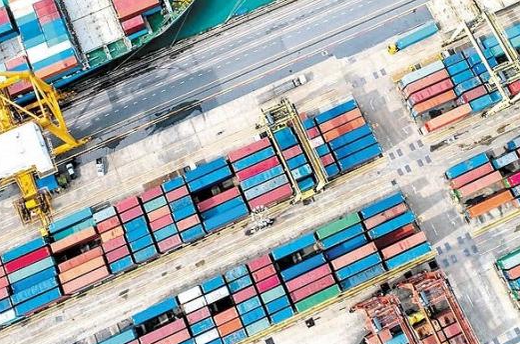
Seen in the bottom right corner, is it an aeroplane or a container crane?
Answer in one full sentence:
The one visible in the bottom right corner is a container crane.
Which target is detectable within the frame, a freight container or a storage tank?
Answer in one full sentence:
The one in the frame is a freight container.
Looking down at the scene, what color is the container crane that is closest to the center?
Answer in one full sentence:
The color of the container crane that is closest to the center is white.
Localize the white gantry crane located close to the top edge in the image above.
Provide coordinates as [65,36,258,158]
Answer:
[440,7,520,117]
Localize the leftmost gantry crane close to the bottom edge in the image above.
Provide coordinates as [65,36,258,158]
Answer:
[349,282,423,344]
